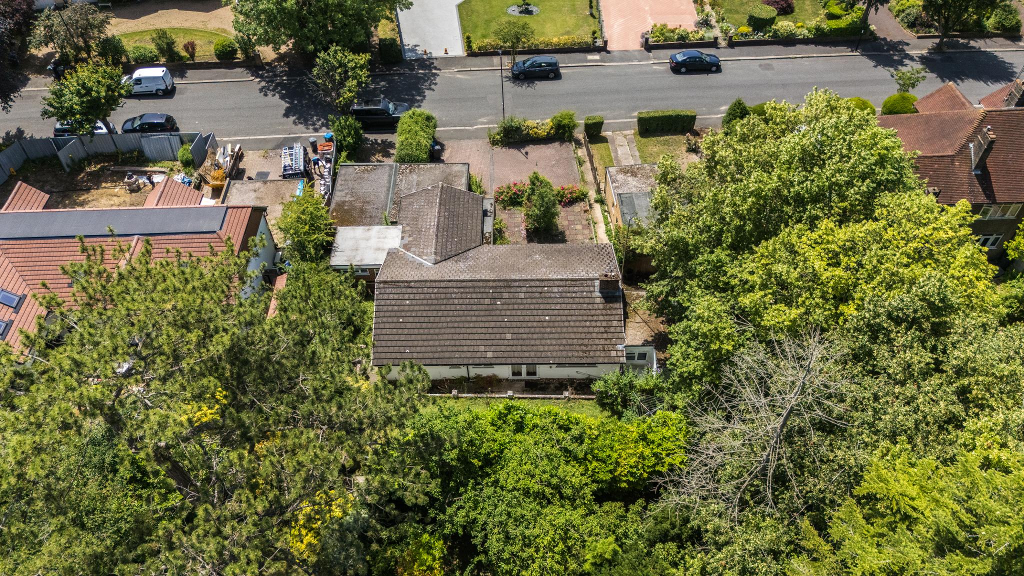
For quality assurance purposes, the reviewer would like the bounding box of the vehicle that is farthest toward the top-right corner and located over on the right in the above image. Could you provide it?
[669,48,724,72]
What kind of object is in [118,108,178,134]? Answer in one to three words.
car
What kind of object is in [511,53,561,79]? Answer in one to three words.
car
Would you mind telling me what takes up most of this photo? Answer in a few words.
trees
